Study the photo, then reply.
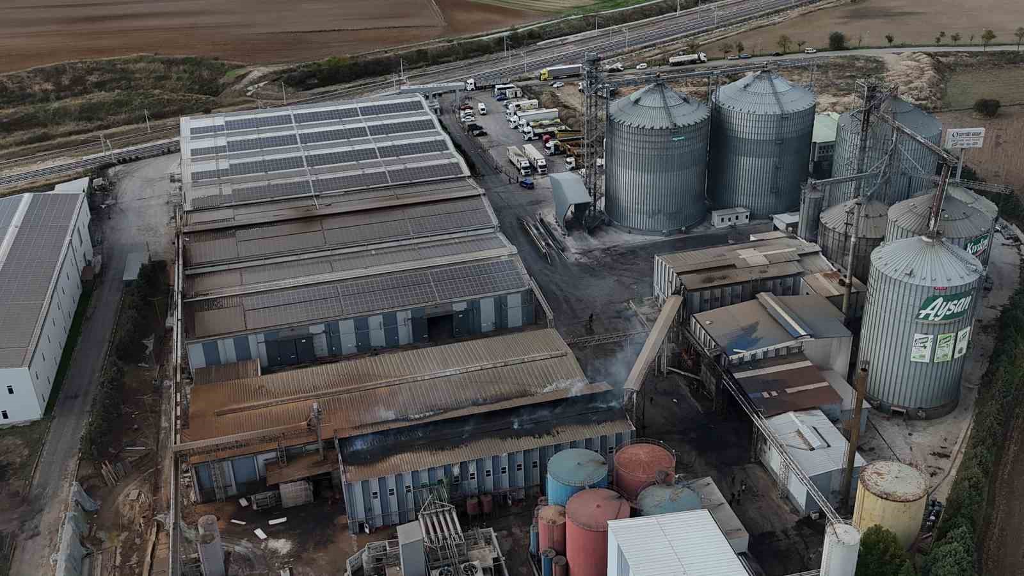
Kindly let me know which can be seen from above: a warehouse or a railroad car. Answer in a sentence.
This aerial view contains a warehouse.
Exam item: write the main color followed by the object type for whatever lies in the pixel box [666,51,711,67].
white vehicle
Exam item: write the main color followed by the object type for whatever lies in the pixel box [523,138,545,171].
white truck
